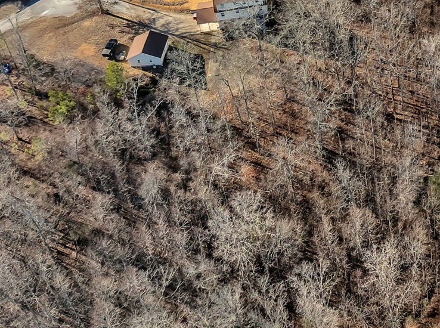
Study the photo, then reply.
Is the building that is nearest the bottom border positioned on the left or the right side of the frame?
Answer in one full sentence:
You can find the building that is nearest the bottom border on the left side of the picture.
